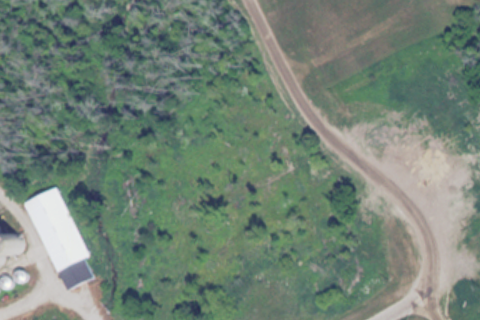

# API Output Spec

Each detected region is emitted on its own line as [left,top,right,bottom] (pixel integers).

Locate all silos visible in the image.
[0,276,15,292]
[13,270,30,286]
